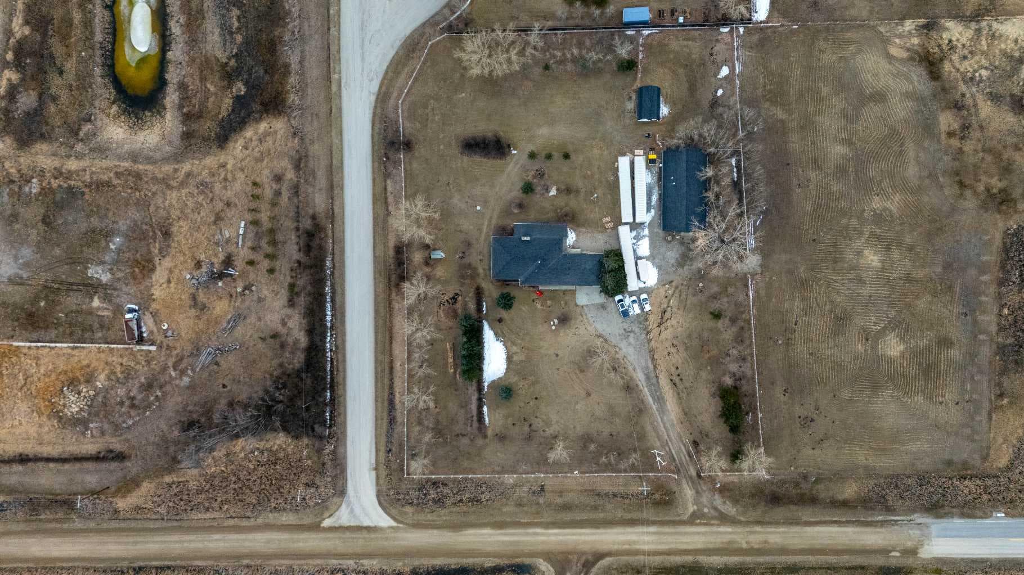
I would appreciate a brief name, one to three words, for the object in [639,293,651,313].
vehicle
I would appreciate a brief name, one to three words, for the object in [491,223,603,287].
house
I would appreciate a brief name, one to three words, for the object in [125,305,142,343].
vehicle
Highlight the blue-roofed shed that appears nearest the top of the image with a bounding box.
[622,5,651,28]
